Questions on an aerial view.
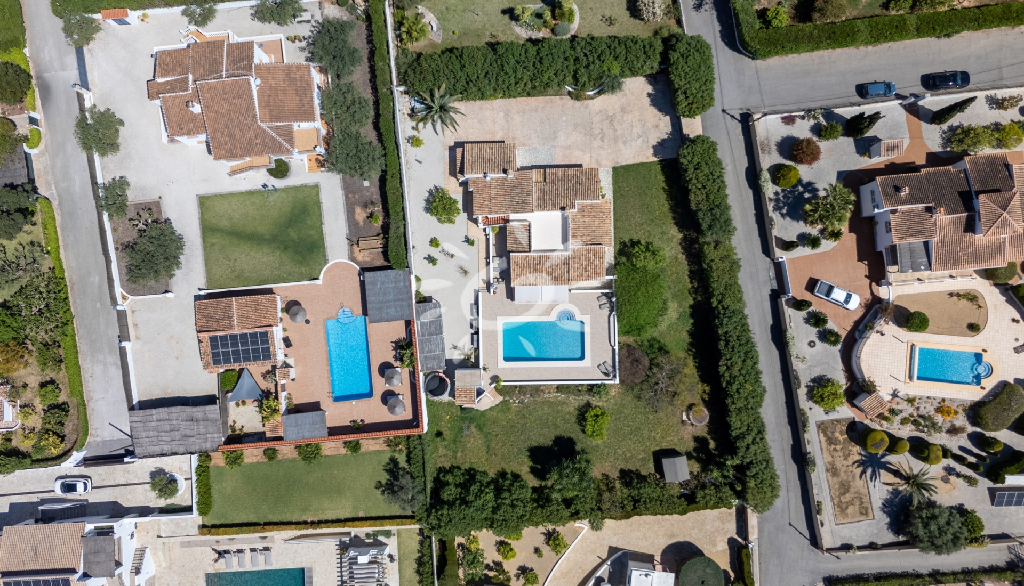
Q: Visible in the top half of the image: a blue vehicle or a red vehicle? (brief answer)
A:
blue vehicle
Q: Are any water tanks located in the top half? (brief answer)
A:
No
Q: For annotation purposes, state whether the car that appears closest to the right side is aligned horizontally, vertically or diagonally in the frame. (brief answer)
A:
horizontally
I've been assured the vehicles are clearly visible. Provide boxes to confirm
[56,476,93,495]
[859,79,893,99]
[925,69,967,90]
[811,280,858,308]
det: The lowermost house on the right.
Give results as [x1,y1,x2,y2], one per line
[579,546,674,586]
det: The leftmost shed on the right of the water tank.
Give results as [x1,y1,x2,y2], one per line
[455,367,482,405]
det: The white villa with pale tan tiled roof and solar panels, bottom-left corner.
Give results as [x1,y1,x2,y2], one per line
[0,512,160,586]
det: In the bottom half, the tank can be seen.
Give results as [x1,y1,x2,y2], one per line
[425,371,451,397]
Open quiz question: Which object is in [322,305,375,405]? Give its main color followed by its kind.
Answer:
blue swimming pool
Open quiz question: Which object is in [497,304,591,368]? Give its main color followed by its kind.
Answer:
blue swimming pool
